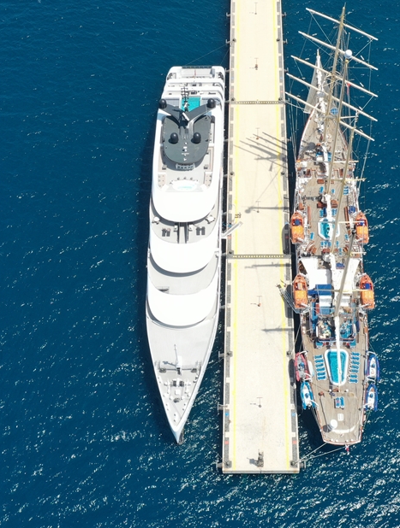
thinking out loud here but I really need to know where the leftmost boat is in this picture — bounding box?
[145,64,225,442]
